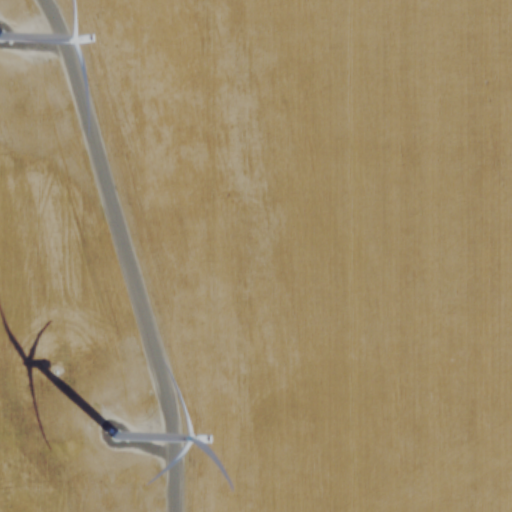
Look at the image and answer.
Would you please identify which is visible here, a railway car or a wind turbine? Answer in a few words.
wind turbine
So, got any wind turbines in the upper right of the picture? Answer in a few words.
No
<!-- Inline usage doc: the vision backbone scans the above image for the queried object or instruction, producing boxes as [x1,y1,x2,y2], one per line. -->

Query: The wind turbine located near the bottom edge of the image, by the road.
[108,358,233,489]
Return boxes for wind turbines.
[0,0,96,118]
[108,358,233,489]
